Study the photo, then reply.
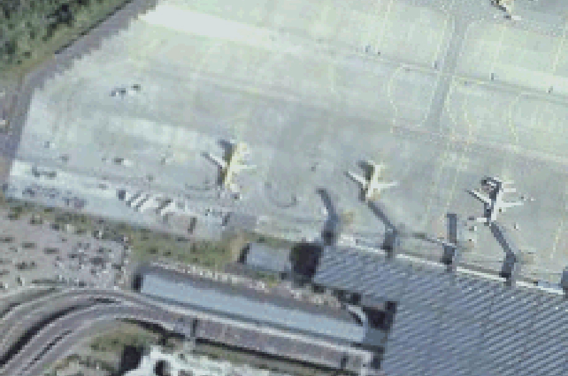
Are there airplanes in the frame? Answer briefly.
Yes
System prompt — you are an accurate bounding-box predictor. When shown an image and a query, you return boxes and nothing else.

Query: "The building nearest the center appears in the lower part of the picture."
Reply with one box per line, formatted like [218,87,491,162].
[246,244,294,274]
